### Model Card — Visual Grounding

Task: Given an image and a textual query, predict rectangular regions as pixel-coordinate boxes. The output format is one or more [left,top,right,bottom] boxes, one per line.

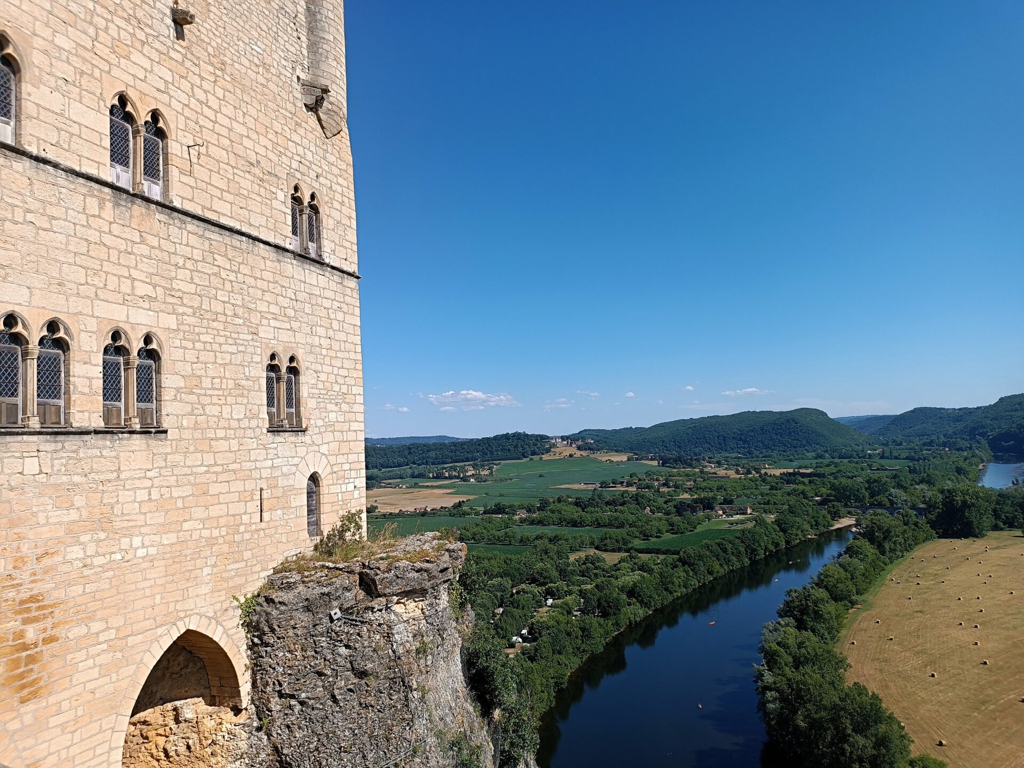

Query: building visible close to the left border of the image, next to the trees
[0,0,366,768]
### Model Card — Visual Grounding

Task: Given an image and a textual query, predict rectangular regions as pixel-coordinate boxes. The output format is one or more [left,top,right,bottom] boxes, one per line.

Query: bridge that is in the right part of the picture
[744,503,922,524]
